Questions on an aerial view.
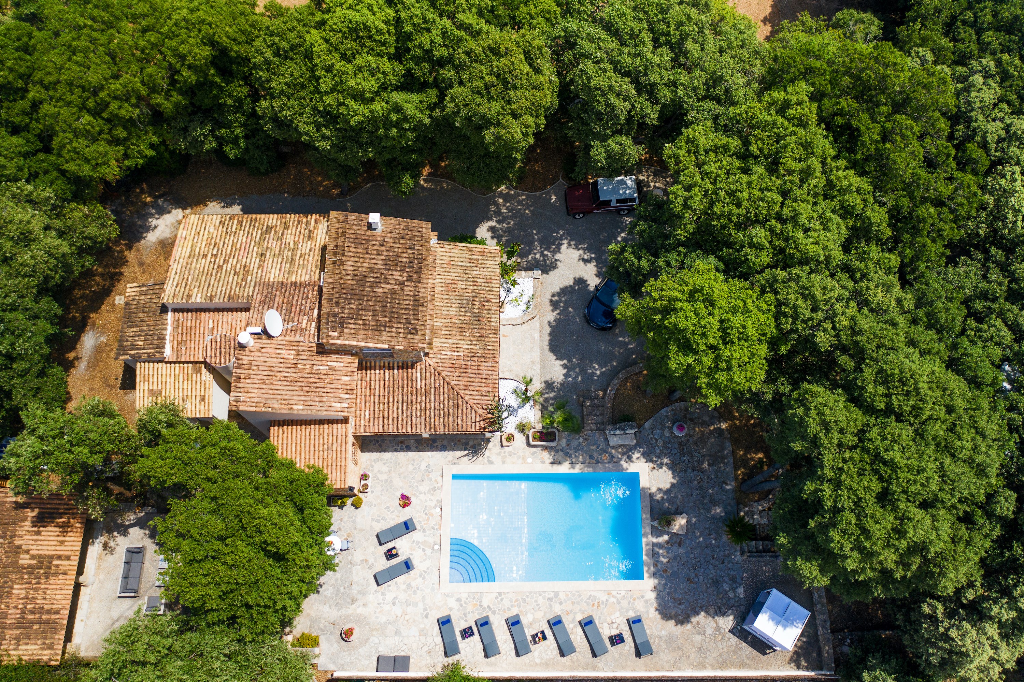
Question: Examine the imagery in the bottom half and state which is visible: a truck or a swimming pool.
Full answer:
The one visible in the bottom half is a swimming pool.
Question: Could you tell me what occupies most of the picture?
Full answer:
The scene is dominated by trees.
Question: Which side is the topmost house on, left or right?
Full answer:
You can find the topmost house on the left side of the picture.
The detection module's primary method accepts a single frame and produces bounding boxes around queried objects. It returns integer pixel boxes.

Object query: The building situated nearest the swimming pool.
[114,212,501,496]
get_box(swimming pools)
[439,463,654,593]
